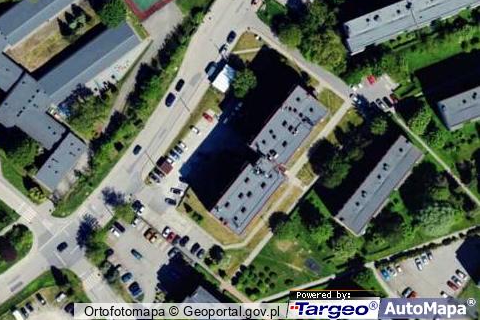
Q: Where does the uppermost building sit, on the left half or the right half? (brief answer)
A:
right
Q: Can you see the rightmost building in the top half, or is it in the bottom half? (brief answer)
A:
top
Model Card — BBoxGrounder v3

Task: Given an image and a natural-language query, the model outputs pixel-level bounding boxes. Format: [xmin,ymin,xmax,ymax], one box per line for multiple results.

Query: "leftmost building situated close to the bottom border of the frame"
[177,286,241,320]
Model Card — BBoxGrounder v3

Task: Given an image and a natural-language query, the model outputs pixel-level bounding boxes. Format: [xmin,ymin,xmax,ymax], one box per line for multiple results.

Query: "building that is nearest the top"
[343,0,480,56]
